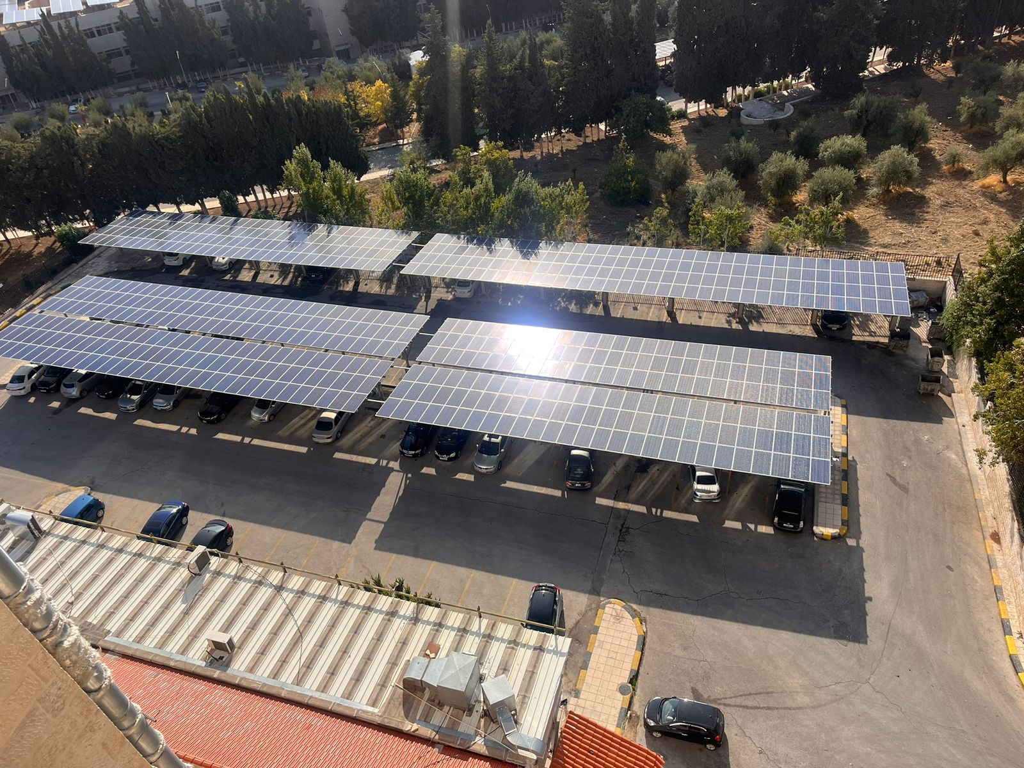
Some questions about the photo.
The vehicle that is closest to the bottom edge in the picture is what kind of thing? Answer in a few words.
car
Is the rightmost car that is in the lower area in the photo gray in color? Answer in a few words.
No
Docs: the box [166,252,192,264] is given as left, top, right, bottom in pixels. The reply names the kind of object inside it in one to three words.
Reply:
vehicle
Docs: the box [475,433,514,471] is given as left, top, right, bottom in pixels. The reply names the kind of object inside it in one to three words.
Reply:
car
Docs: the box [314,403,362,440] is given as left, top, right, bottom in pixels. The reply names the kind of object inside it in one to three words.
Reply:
car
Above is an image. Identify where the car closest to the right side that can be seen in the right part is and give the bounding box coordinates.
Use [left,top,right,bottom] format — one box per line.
[821,309,848,327]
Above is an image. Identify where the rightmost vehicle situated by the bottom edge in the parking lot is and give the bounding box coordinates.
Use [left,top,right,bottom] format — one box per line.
[643,686,729,747]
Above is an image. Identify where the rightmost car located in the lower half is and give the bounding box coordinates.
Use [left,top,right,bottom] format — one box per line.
[772,478,812,528]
